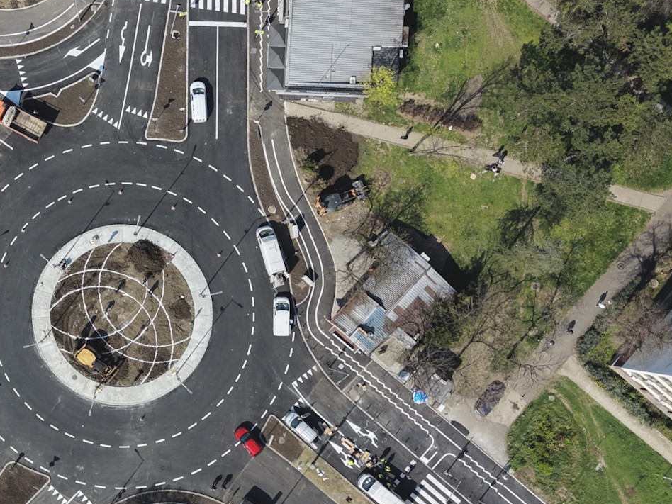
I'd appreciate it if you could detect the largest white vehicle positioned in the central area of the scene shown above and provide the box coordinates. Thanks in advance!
[255,224,294,288]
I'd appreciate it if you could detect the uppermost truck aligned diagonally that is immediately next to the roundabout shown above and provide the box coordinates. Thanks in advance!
[0,95,47,143]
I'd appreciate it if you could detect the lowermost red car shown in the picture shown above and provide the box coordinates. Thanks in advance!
[233,424,265,460]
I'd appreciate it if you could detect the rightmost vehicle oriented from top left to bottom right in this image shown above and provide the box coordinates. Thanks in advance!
[355,468,407,504]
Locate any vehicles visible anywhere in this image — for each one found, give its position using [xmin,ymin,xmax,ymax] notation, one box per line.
[66,337,122,383]
[233,424,265,460]
[238,494,260,504]
[271,297,292,336]
[0,95,47,143]
[305,181,366,224]
[355,468,407,504]
[255,224,294,288]
[188,82,209,124]
[473,376,508,417]
[283,407,327,453]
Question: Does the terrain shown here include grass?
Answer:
Yes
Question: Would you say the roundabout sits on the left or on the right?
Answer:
left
